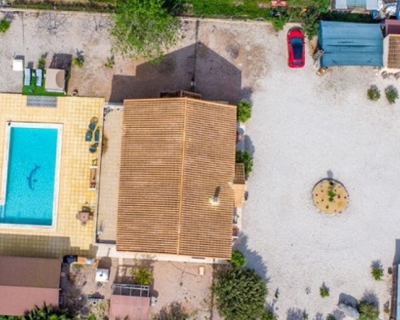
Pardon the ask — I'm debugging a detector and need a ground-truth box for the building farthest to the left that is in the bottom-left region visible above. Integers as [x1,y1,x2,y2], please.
[0,257,62,315]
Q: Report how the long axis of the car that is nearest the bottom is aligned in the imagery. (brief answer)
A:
vertically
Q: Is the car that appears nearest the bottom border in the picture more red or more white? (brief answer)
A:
red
